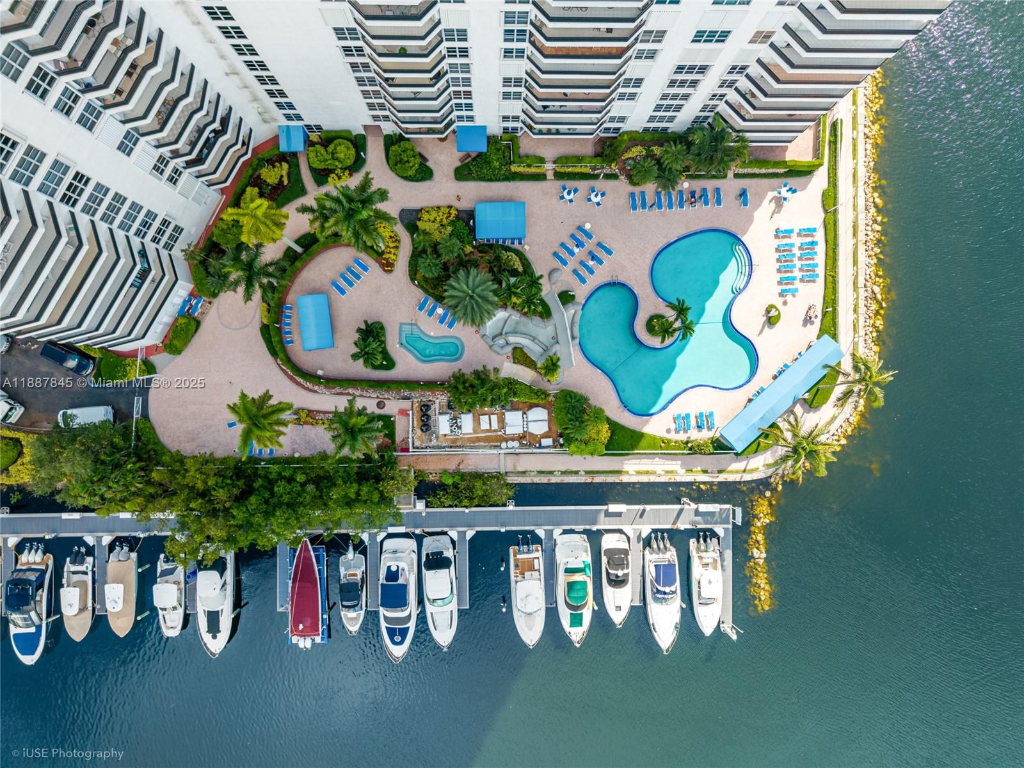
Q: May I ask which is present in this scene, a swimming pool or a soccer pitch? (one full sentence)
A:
This aerial view contains a swimming pool.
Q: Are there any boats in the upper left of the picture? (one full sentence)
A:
No, the scene shows no boat in the upper left of the picture.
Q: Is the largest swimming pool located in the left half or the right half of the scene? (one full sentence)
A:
The largest swimming pool sits on the right side.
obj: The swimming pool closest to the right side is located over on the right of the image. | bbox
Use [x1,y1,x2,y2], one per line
[577,225,763,419]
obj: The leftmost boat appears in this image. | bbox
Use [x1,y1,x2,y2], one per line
[9,537,64,667]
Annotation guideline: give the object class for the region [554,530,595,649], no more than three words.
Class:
boat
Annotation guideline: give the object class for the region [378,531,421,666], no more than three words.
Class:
boat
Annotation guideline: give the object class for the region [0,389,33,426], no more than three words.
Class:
truck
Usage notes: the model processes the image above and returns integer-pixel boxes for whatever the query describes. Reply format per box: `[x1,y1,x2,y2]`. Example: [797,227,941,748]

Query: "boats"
[155,540,189,640]
[378,531,421,666]
[9,537,64,667]
[290,538,327,649]
[421,530,460,652]
[196,543,241,660]
[554,530,595,649]
[338,538,368,637]
[686,524,724,639]
[108,539,145,640]
[640,531,682,657]
[509,529,548,650]
[64,541,100,644]
[599,531,633,630]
